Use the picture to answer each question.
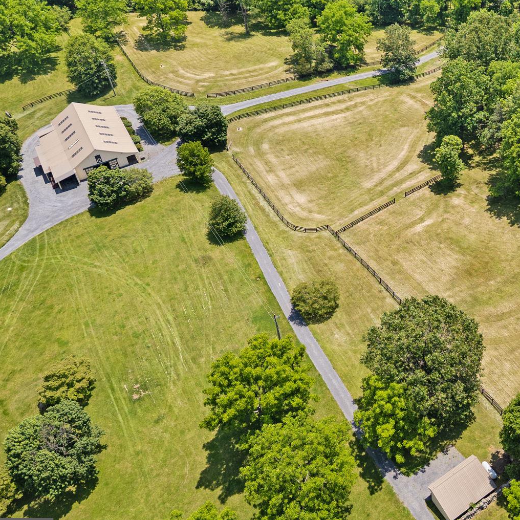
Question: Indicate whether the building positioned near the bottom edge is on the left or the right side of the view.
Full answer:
The building positioned near the bottom edge is on the right side of the image.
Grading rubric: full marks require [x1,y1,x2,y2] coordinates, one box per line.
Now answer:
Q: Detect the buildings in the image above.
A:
[36,101,140,192]
[429,454,496,520]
